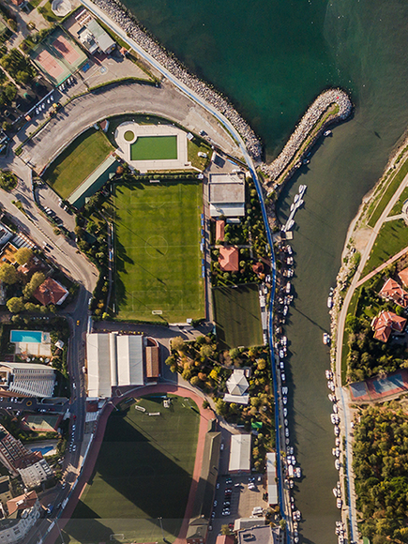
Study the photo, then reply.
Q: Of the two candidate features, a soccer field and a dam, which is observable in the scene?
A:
soccer field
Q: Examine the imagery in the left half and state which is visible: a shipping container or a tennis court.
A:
tennis court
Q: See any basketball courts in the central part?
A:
No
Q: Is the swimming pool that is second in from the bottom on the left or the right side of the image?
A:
left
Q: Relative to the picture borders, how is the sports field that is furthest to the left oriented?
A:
at an angle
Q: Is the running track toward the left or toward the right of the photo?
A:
left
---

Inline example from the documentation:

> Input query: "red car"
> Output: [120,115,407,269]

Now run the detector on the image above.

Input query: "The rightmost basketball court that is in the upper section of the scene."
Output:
[82,56,125,85]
